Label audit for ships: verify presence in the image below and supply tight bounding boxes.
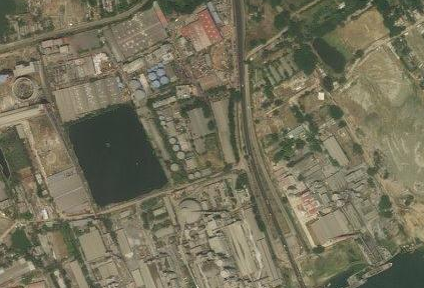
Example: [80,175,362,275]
[345,279,367,288]
[363,264,391,281]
